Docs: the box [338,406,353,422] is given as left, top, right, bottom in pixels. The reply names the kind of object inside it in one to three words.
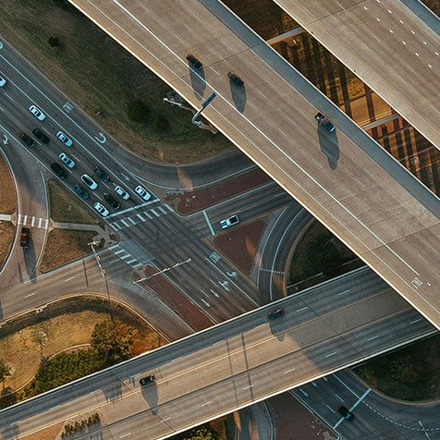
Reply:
car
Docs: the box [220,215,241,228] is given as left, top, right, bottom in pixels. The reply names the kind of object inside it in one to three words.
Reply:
vehicle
